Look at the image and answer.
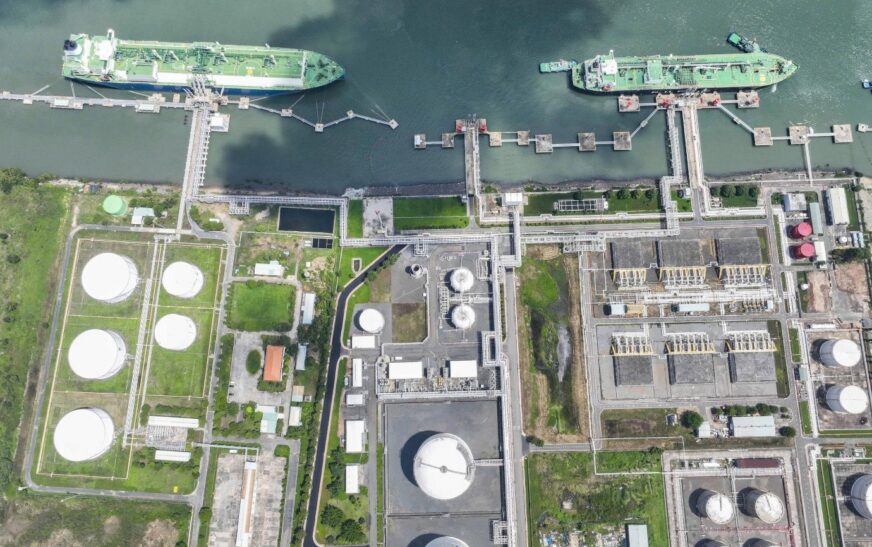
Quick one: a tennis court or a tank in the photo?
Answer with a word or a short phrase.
tank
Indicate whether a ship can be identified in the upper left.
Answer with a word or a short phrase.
Yes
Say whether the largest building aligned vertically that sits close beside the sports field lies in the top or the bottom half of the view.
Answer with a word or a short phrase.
bottom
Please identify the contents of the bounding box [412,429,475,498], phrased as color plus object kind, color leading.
white storage tank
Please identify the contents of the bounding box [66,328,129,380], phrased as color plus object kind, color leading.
white storage tank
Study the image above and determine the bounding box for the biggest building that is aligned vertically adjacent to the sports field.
[264,345,284,382]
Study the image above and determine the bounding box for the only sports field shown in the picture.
[228,284,292,329]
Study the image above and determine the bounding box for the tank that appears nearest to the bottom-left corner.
[52,406,118,463]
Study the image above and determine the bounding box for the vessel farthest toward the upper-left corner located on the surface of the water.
[58,30,344,95]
